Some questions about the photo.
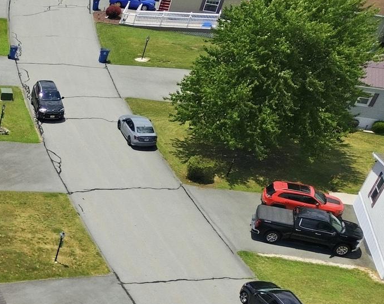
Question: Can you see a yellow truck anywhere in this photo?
No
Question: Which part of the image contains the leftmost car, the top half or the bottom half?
top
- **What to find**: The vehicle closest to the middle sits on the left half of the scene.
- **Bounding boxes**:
[117,111,158,147]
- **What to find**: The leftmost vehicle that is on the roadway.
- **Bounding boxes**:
[31,77,66,120]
